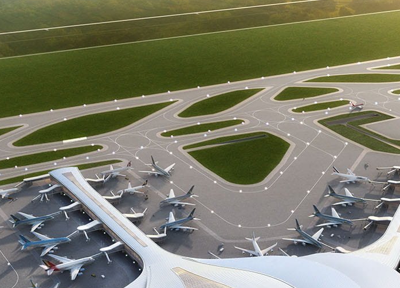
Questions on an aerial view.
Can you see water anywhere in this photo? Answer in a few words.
No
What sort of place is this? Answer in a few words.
airport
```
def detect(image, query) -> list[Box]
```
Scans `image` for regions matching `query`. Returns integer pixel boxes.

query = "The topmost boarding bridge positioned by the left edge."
[13,175,50,187]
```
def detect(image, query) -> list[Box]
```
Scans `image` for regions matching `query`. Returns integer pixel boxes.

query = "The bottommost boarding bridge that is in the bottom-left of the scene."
[92,243,124,264]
